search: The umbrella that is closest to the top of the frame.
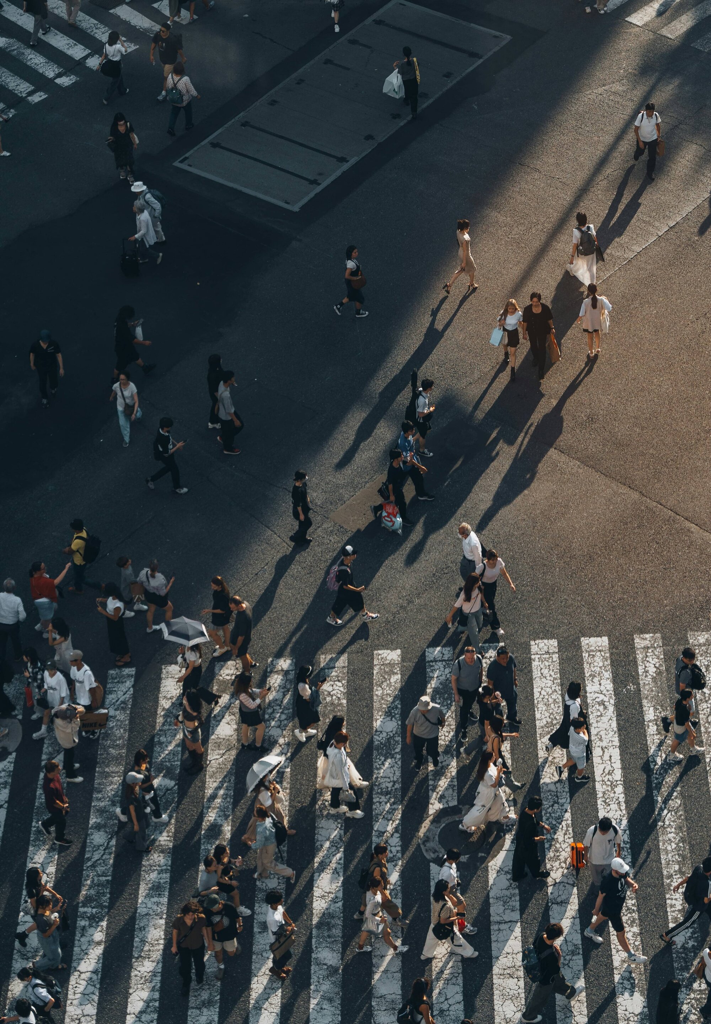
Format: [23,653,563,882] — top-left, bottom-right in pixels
[162,612,213,655]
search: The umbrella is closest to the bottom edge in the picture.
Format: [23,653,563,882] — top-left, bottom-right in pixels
[246,756,286,797]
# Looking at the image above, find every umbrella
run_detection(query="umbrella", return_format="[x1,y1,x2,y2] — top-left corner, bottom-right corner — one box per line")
[162,612,213,655]
[246,756,286,797]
